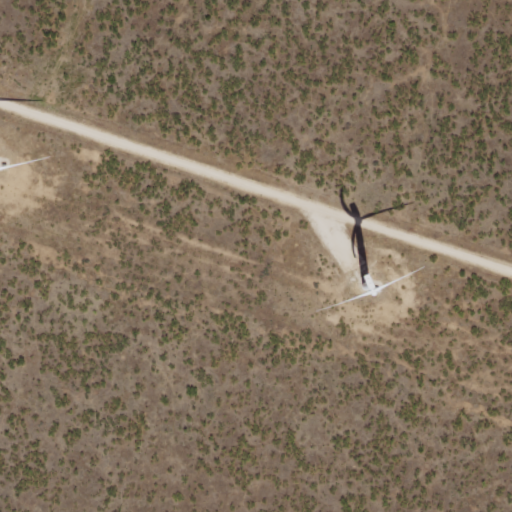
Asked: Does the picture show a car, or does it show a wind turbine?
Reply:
wind turbine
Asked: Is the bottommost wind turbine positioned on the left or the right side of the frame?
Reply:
right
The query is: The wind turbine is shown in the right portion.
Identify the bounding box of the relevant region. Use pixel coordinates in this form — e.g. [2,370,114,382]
[322,268,430,312]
